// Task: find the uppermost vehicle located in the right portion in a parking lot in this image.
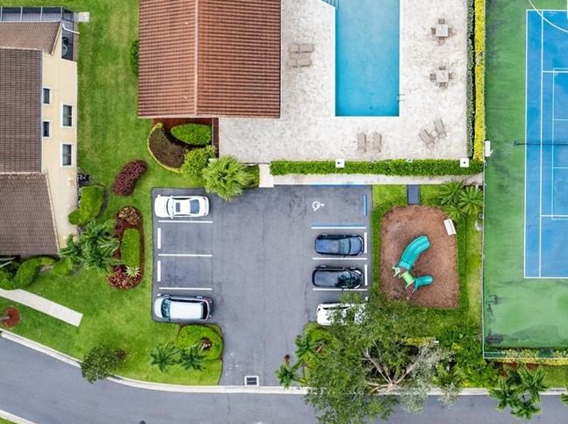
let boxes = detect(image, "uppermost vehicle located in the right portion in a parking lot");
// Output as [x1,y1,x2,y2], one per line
[315,234,366,260]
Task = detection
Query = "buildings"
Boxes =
[137,0,282,119]
[0,20,79,256]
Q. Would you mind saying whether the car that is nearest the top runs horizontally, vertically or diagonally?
horizontally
